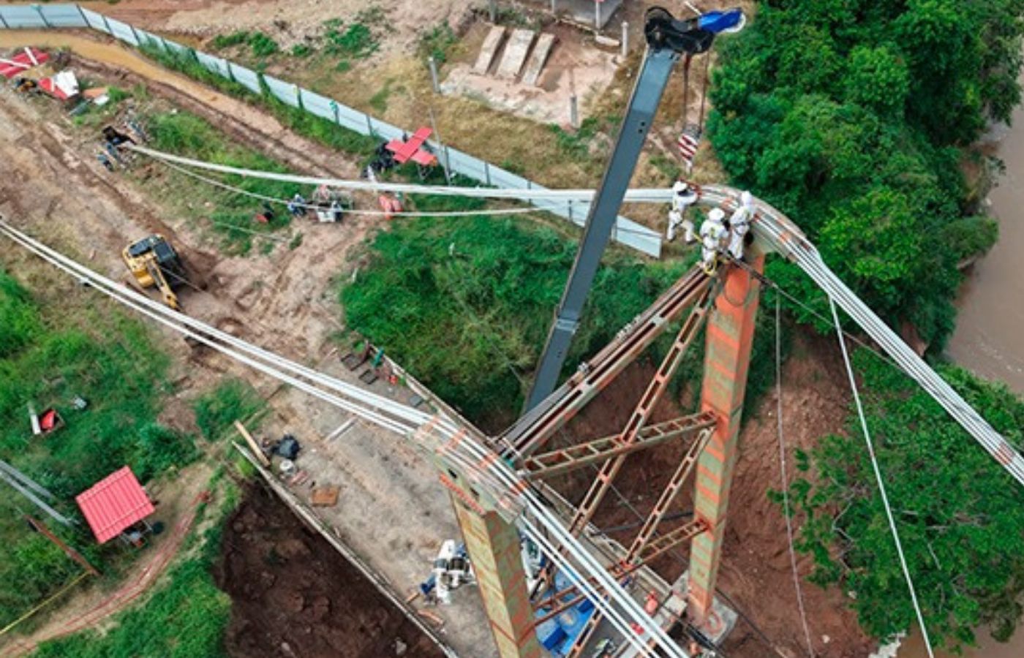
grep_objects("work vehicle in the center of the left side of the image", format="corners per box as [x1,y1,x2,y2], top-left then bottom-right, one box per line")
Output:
[109,221,185,315]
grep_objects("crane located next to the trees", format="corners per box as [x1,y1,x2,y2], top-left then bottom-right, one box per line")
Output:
[408,0,721,658]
